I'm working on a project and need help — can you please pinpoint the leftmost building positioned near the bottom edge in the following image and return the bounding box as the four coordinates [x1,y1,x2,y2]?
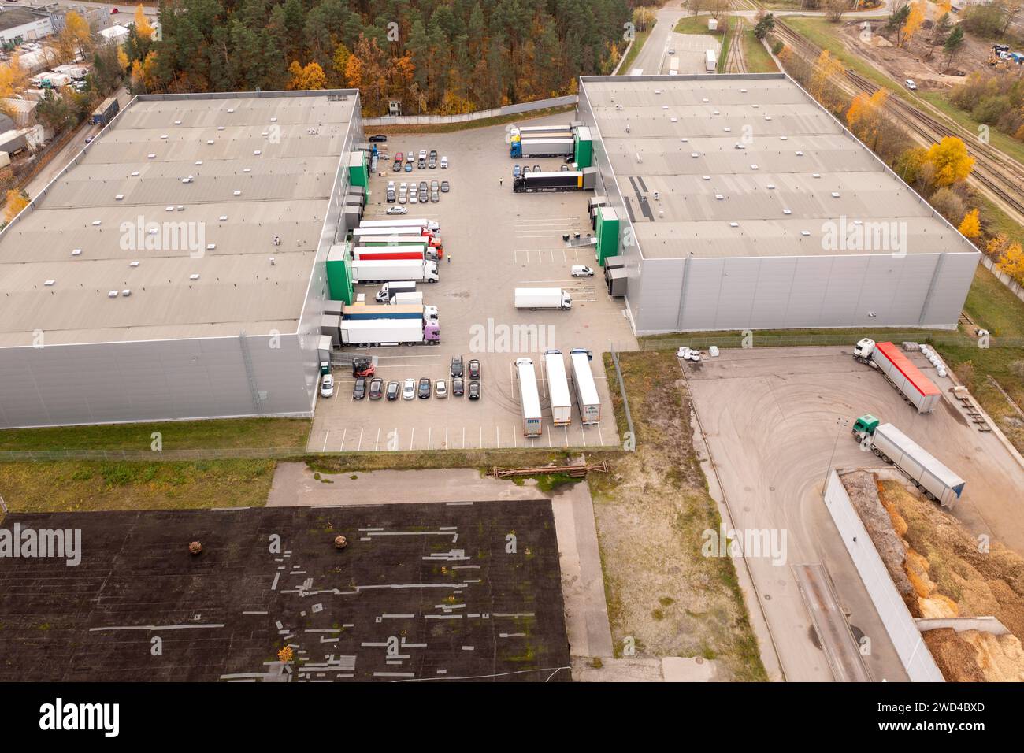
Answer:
[0,499,580,753]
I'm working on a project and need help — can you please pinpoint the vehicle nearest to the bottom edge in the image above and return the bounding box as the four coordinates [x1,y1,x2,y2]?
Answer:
[856,421,966,509]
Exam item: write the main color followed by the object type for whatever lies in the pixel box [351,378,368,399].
gray car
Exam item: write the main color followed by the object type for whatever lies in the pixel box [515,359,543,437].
white truck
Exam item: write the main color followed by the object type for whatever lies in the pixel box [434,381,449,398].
white car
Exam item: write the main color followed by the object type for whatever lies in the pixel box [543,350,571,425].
white truck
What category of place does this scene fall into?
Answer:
industrial area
